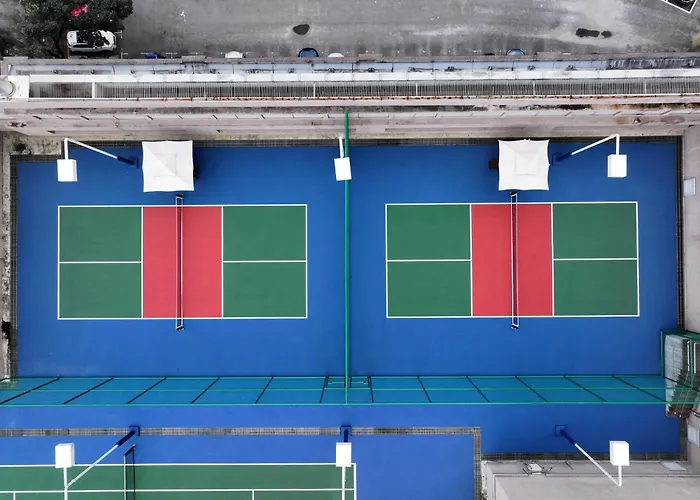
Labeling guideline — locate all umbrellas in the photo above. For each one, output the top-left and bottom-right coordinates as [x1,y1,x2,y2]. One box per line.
[496,139,550,192]
[142,140,196,194]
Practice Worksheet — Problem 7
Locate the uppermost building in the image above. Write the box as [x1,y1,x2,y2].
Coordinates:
[0,52,700,141]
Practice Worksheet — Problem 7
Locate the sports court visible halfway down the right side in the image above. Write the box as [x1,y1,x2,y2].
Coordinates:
[348,144,677,377]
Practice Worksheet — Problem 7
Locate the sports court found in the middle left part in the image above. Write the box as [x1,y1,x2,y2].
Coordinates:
[17,146,346,380]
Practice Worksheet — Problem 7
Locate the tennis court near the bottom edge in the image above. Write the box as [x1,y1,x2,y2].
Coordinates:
[0,434,475,500]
